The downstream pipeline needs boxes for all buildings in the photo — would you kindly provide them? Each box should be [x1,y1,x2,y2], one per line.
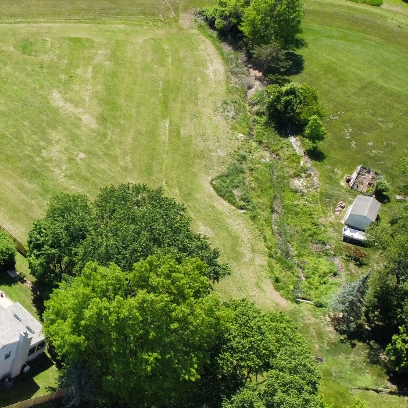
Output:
[0,302,46,381]
[328,191,378,229]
